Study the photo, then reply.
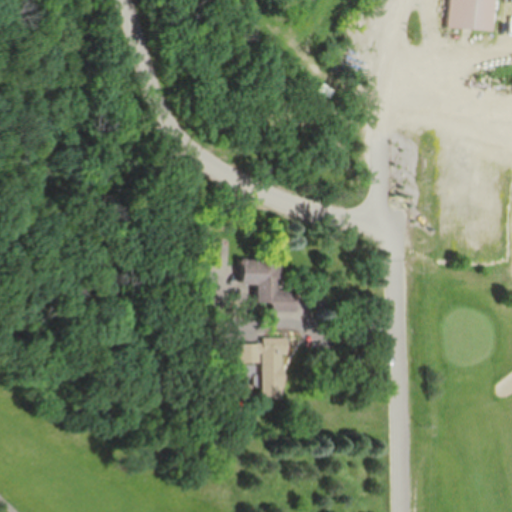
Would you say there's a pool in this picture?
No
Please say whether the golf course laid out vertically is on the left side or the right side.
right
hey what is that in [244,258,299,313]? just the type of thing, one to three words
house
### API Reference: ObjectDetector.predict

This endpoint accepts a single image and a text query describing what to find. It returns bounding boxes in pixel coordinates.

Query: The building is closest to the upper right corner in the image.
[448,0,496,30]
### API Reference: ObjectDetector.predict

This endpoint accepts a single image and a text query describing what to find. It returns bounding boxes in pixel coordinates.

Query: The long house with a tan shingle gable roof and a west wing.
[244,337,288,397]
